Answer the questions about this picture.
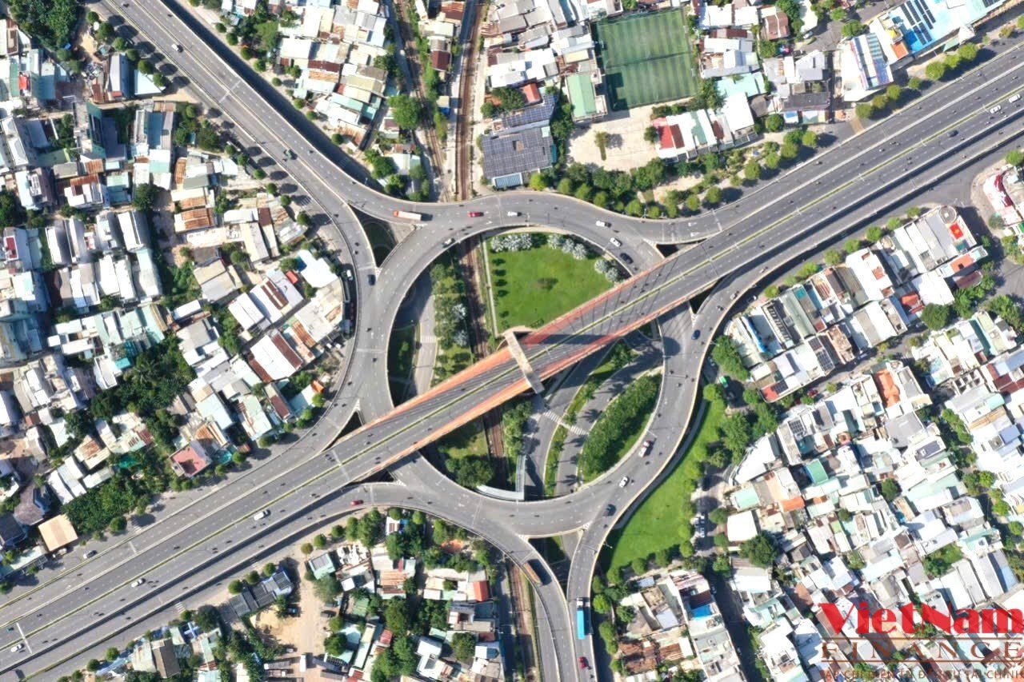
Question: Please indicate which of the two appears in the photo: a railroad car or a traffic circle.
traffic circle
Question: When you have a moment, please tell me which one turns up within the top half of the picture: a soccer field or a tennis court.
soccer field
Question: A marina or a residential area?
residential area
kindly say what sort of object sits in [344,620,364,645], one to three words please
house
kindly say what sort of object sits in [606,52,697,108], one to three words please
soccer field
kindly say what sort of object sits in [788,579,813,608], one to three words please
house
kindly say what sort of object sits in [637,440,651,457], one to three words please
vehicle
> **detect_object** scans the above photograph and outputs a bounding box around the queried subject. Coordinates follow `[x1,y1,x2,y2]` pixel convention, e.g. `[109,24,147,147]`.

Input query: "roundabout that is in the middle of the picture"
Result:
[351,190,698,544]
